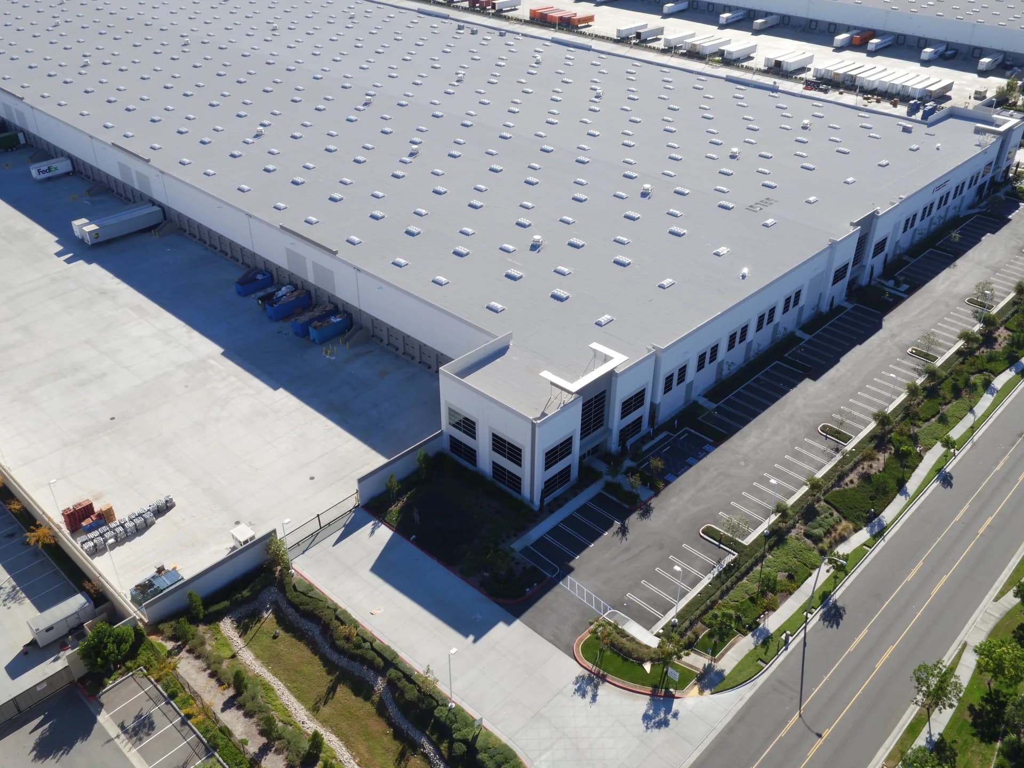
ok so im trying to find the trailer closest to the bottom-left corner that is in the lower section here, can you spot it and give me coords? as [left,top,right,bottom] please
[26,594,96,654]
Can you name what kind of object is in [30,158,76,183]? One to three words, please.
trailer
